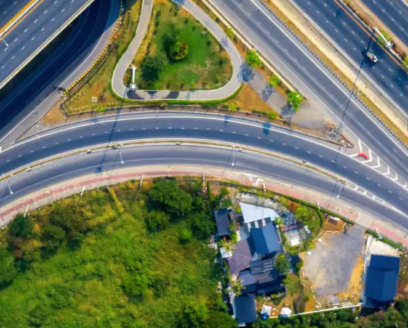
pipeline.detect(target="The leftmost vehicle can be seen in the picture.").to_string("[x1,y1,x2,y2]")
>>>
[363,48,379,64]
